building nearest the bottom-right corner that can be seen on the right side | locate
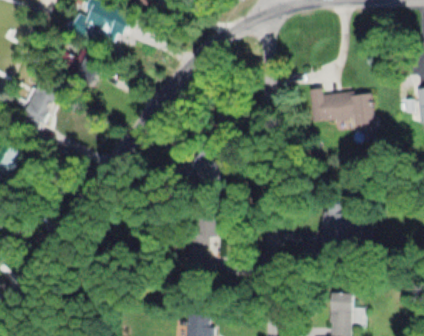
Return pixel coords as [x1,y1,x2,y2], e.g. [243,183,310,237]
[331,294,369,336]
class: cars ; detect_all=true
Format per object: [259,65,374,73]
[303,74,308,84]
[0,266,11,274]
